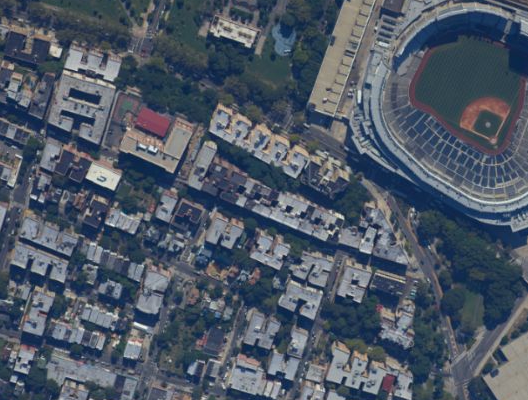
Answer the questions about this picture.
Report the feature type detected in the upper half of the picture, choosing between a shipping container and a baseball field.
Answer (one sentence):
It is a baseball field that can be seen in the upper half of the picture.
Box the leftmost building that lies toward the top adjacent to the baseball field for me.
[309,0,376,117]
